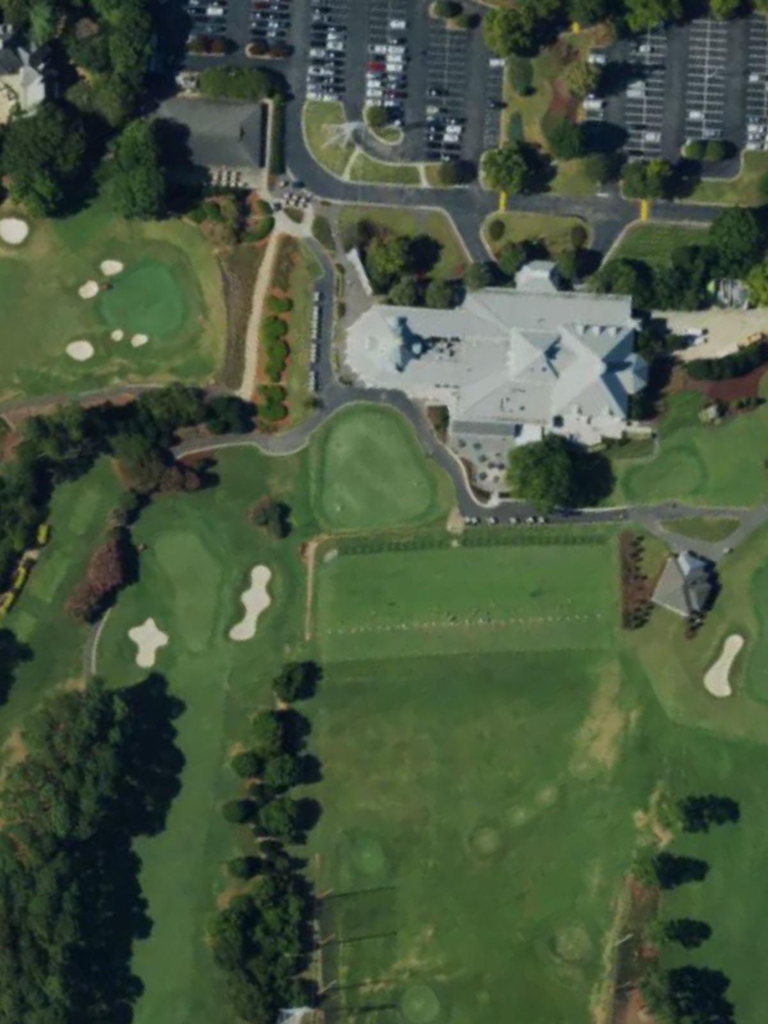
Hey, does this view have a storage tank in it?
No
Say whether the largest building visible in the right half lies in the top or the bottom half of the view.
top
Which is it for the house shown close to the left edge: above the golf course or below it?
above it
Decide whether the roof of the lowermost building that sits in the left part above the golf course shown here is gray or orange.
gray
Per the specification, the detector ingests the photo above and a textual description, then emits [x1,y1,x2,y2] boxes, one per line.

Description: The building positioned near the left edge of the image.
[0,26,45,125]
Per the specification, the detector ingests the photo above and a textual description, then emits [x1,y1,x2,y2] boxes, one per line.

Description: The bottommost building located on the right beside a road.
[651,549,712,617]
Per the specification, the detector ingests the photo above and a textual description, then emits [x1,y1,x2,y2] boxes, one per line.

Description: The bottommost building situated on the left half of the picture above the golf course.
[158,99,262,168]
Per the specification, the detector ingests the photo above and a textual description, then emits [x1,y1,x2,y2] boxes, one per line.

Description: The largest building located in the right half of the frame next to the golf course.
[342,261,648,452]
